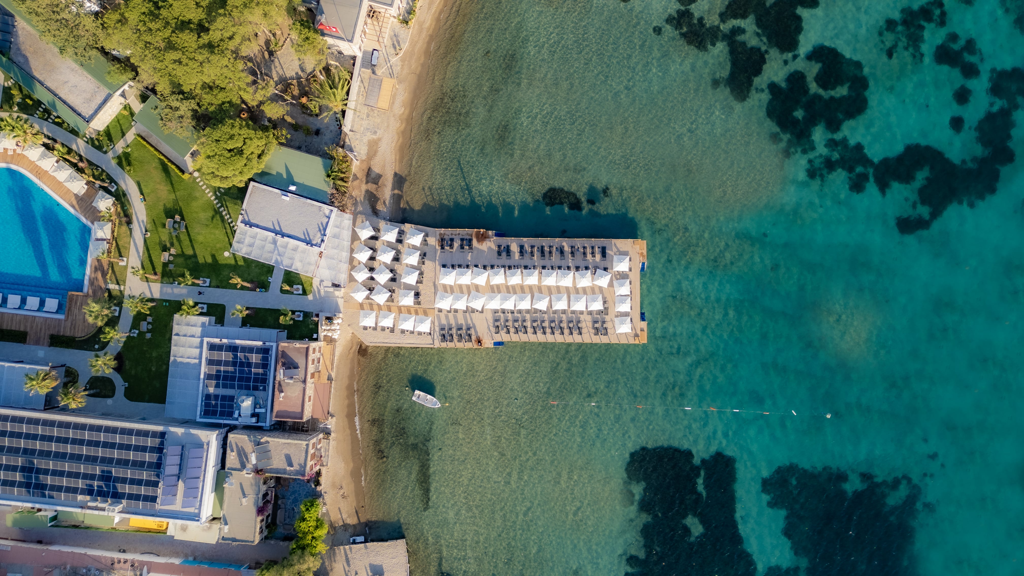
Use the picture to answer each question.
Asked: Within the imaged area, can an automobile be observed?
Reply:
No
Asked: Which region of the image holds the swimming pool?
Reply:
left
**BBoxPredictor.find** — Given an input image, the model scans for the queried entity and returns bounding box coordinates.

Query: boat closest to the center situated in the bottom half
[412,390,441,407]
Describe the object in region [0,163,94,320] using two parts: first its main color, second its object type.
blue swimming pool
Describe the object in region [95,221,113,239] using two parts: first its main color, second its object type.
white umbrella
